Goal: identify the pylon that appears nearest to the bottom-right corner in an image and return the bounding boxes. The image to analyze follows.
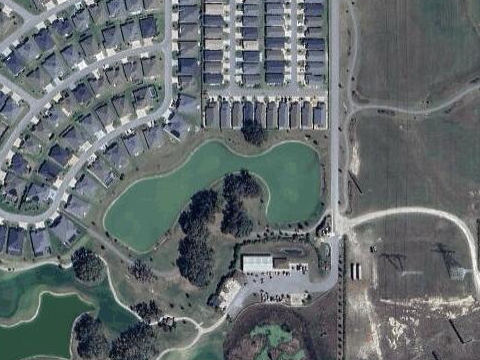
[450,268,480,281]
